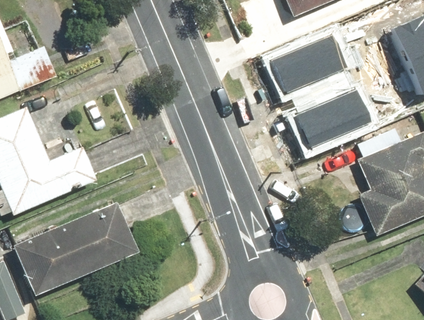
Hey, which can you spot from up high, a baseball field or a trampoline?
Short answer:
trampoline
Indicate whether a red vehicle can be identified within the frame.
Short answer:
Yes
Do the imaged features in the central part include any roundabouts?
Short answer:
No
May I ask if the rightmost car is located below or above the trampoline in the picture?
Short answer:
above it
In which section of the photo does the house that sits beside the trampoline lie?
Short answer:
right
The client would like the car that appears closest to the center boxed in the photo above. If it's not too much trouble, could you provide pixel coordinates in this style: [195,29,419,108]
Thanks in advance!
[212,86,234,118]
